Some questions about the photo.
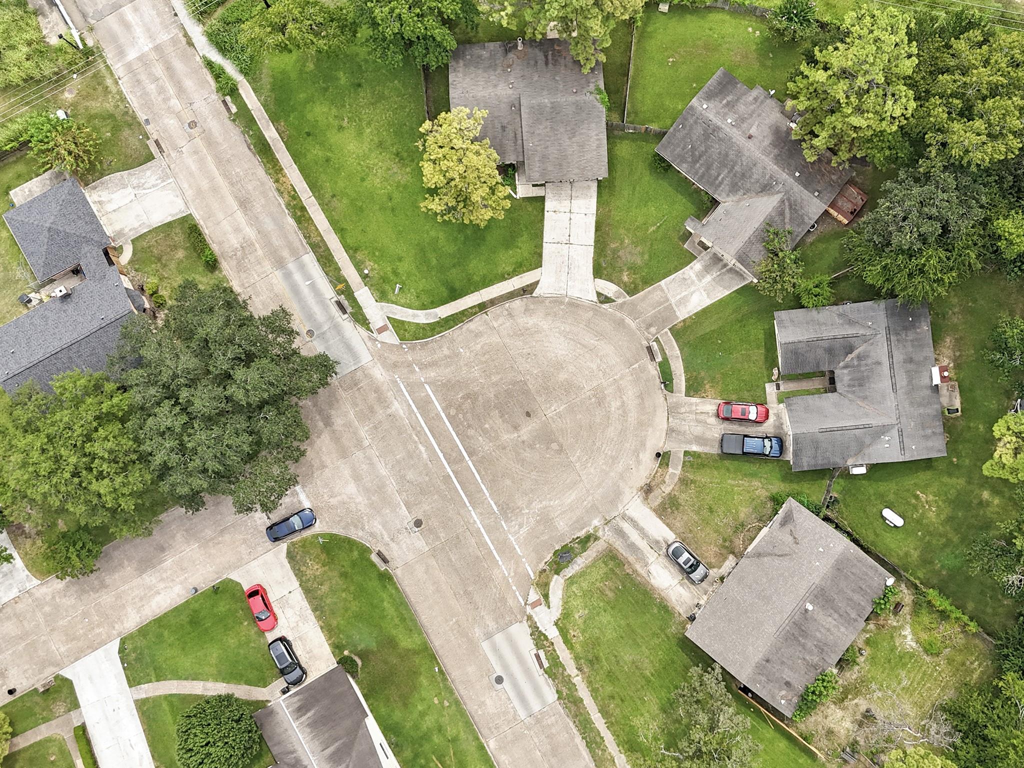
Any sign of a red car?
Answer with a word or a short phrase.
Yes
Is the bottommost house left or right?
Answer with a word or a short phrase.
left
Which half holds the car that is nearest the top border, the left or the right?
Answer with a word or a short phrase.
right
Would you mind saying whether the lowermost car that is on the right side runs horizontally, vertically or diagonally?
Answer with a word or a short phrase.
diagonally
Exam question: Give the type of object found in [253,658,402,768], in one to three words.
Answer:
house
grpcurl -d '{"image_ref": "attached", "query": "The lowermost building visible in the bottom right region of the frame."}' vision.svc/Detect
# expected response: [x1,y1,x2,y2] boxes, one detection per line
[684,496,896,718]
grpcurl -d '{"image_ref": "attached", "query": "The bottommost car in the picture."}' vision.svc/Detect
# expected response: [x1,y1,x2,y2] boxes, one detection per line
[269,632,306,686]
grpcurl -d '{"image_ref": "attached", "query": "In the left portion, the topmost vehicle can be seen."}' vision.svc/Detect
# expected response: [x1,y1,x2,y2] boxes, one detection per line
[265,506,319,544]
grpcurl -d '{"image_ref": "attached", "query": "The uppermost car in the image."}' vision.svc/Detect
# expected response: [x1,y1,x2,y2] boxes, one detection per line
[716,401,768,425]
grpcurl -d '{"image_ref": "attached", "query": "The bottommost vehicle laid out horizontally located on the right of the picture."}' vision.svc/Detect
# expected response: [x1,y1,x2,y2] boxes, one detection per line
[718,433,783,459]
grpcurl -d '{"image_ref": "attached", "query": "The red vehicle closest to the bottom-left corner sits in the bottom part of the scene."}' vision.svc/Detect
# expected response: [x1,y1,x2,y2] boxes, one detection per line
[244,581,279,633]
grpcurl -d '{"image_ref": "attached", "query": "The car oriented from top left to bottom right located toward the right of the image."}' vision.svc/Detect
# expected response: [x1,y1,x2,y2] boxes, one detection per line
[665,538,709,586]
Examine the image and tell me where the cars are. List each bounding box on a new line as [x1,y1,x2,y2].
[265,506,319,544]
[269,632,306,686]
[665,538,709,586]
[244,581,279,633]
[716,401,768,425]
